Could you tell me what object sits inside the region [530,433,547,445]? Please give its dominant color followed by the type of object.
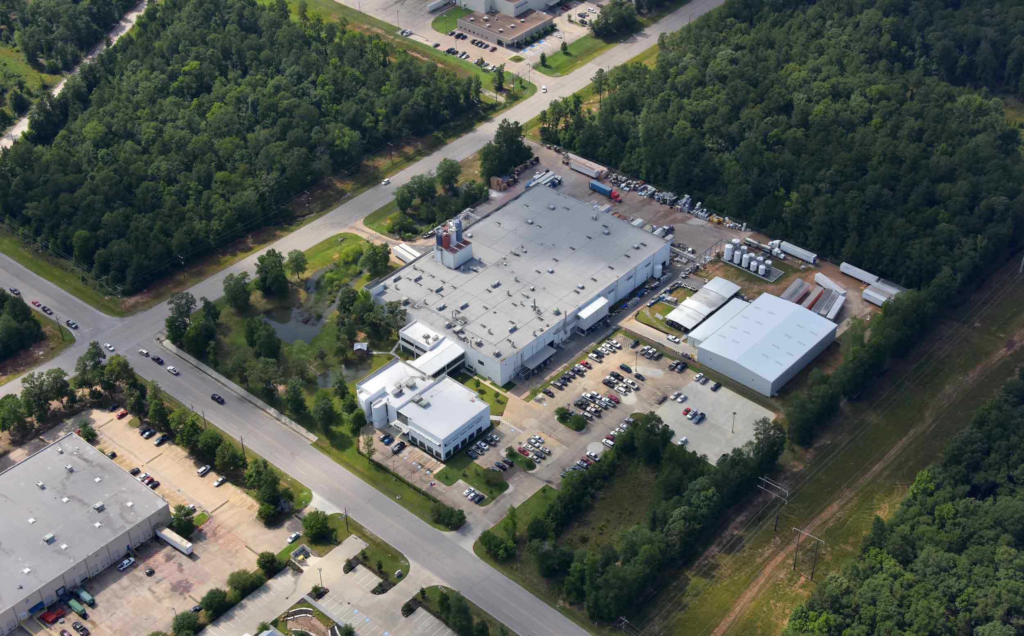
white vehicle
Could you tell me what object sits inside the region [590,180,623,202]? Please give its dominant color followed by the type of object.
blue truck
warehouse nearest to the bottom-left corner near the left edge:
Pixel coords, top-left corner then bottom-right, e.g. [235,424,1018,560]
[0,432,171,636]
